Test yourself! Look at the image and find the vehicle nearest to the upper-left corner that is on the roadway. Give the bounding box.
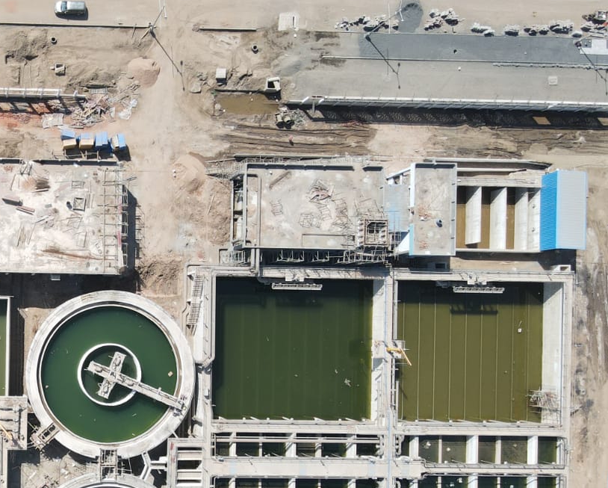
[56,0,89,16]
